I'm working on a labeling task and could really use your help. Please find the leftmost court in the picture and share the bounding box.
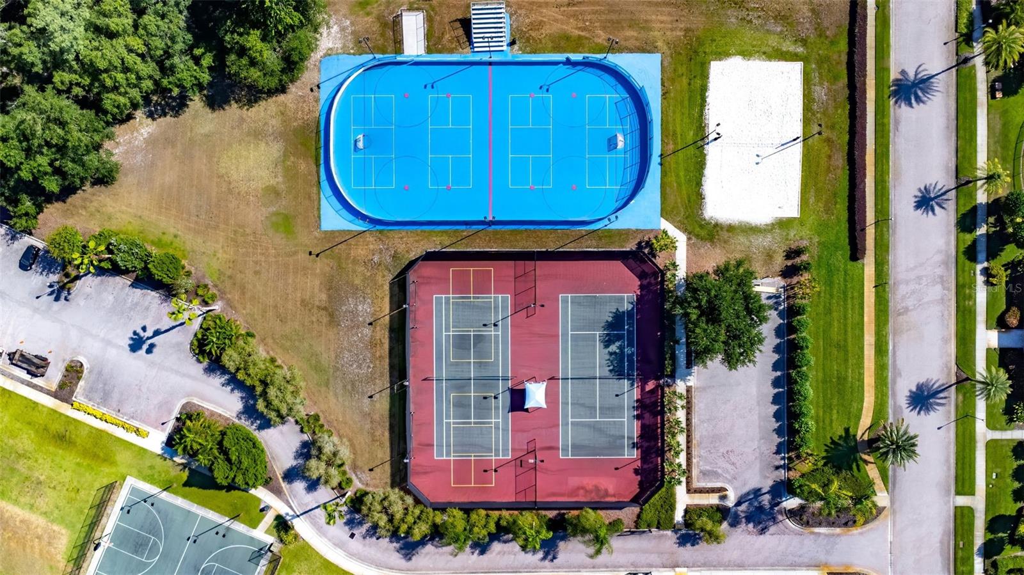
[86,476,277,575]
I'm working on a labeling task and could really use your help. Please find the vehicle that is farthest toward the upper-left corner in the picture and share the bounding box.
[15,243,38,272]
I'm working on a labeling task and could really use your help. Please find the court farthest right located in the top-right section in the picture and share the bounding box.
[703,56,803,223]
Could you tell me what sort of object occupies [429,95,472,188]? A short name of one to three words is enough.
sports court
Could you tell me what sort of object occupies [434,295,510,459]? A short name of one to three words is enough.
tennis court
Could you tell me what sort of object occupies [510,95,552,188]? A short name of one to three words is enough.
sports court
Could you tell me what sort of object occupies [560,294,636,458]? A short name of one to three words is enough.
tennis court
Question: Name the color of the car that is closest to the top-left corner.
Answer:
black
